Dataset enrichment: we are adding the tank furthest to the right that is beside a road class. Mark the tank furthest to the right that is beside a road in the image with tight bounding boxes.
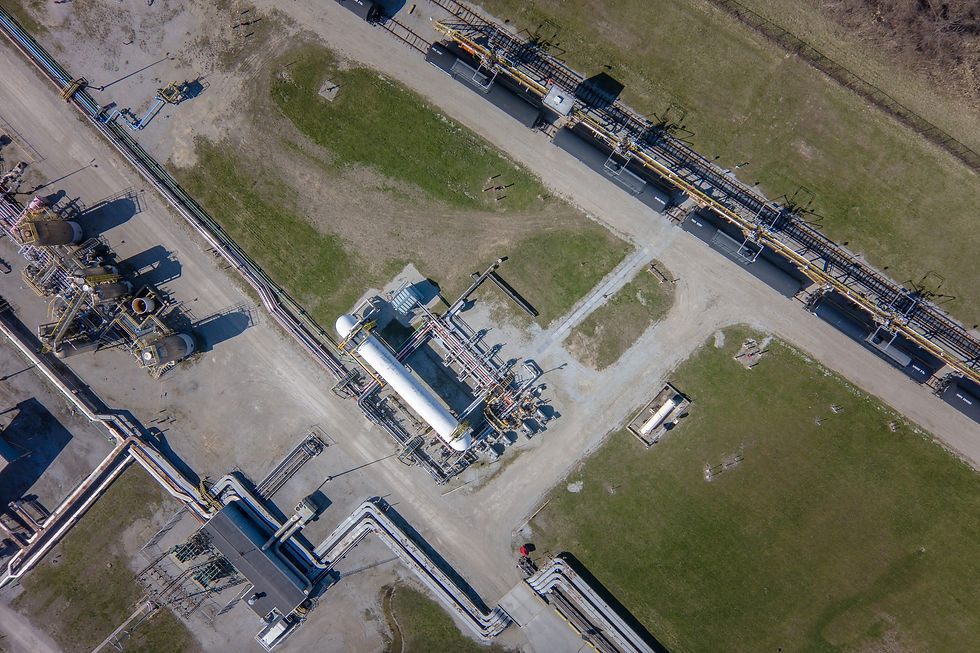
[627,382,691,446]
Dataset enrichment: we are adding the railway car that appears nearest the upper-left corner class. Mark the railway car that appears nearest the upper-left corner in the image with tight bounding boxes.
[338,0,391,30]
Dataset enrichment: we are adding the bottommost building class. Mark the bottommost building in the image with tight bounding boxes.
[203,505,317,619]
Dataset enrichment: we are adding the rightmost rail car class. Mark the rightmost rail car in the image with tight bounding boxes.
[936,379,980,424]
